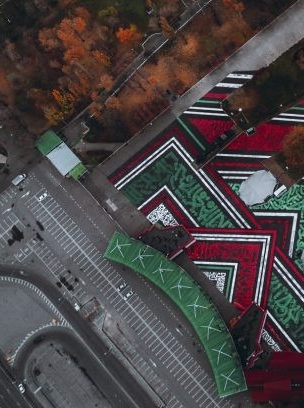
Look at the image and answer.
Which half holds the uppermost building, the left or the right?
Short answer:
left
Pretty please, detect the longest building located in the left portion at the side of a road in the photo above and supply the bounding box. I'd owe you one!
[37,130,90,182]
